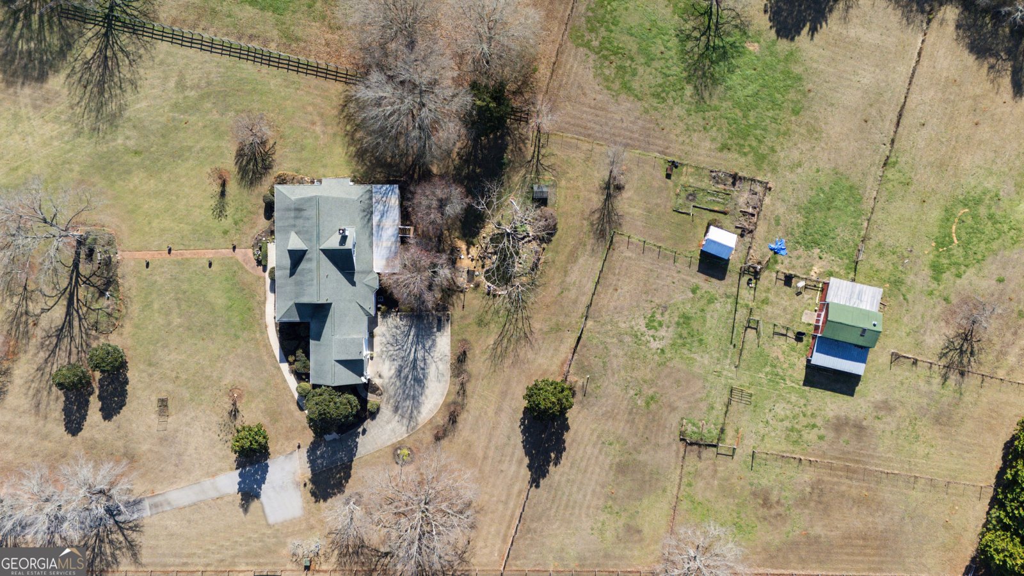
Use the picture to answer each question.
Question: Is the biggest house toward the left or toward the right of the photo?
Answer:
left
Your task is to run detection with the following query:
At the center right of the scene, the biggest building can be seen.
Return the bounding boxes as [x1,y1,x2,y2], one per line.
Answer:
[805,277,883,374]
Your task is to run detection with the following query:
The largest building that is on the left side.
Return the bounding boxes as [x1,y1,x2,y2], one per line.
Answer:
[275,179,400,387]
